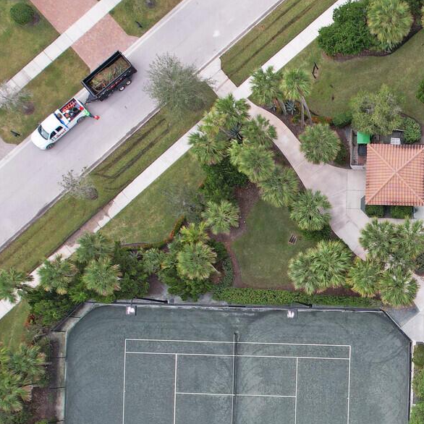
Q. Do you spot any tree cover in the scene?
Yes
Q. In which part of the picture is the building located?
right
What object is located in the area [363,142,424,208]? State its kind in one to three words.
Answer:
building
